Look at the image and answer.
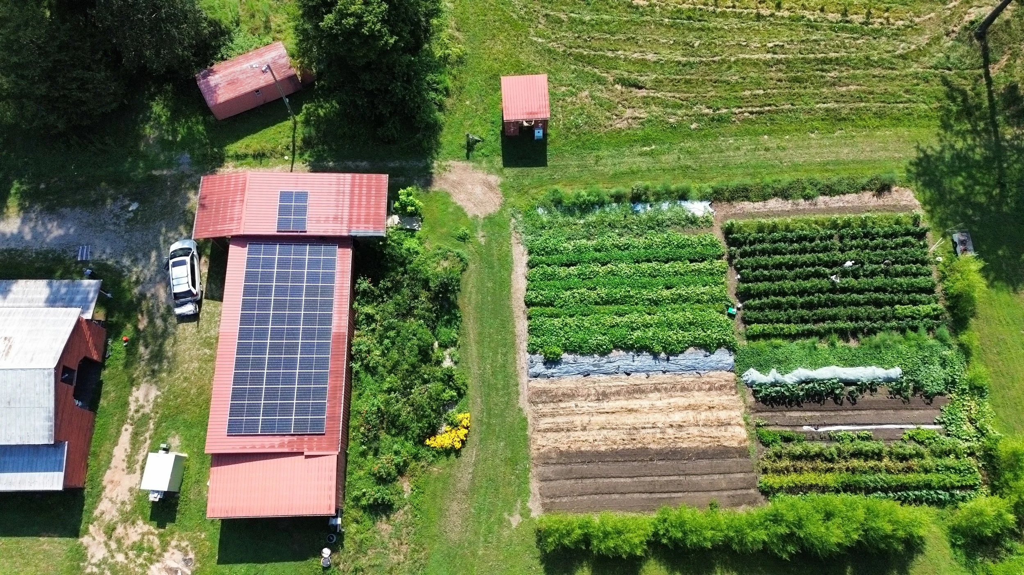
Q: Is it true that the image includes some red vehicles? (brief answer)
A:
No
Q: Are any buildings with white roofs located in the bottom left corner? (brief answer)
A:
Yes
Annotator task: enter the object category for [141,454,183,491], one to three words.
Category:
building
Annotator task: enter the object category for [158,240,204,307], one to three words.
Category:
car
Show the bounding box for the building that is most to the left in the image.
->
[0,282,118,491]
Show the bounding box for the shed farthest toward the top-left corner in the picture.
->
[191,35,301,119]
